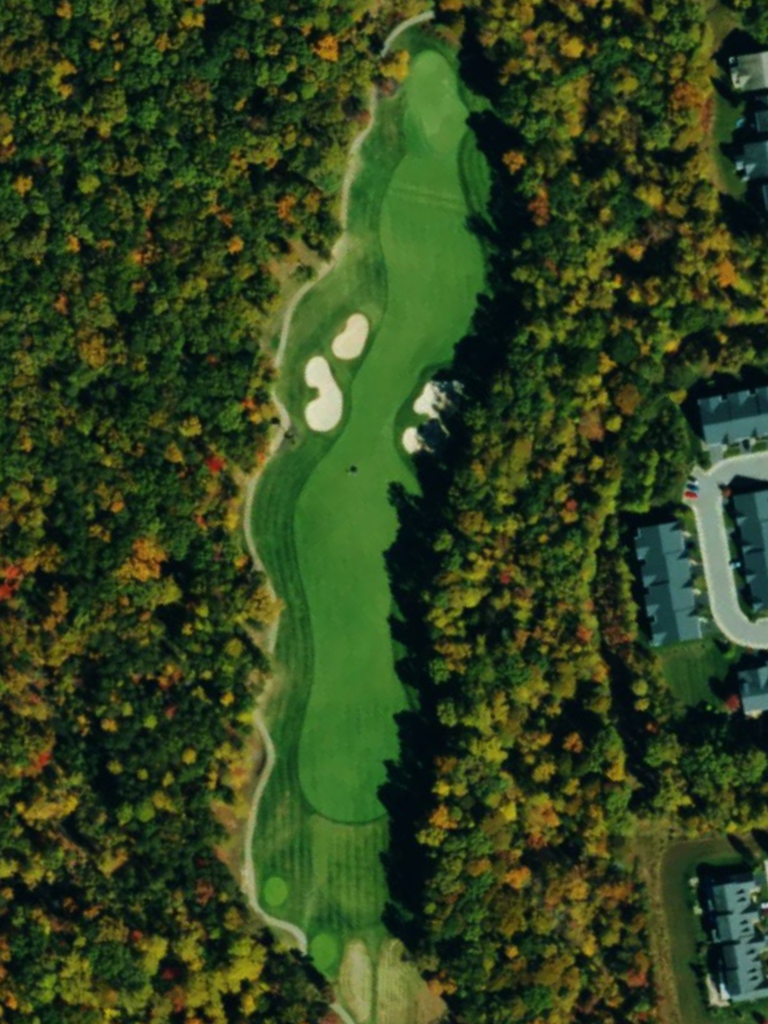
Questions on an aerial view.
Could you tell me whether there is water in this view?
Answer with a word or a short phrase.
No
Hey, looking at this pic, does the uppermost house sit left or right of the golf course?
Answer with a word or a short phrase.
to its right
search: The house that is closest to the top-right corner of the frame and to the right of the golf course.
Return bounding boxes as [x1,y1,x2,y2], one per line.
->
[730,53,768,93]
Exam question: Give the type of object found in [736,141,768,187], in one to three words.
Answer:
house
